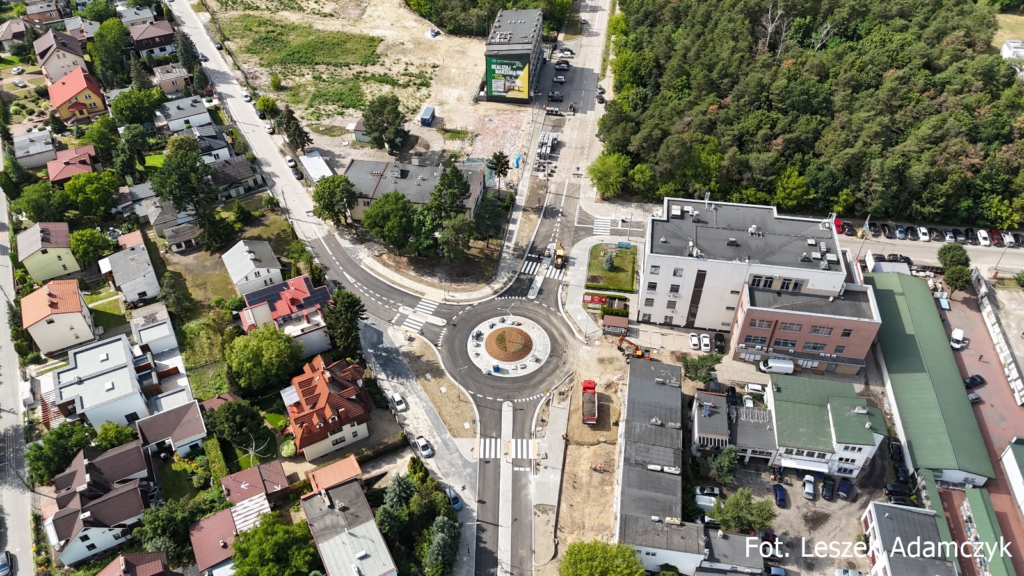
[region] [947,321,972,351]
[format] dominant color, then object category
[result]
white vehicle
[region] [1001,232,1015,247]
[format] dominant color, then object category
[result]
white car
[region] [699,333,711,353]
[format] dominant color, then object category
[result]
white vehicle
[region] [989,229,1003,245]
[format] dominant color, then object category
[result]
red car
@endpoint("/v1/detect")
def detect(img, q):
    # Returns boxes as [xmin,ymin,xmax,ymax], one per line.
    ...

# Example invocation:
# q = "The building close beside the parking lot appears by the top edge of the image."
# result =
[479,7,537,104]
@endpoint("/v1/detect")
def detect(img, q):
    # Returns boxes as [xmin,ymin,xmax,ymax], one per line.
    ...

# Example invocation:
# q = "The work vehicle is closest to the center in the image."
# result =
[553,240,565,272]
